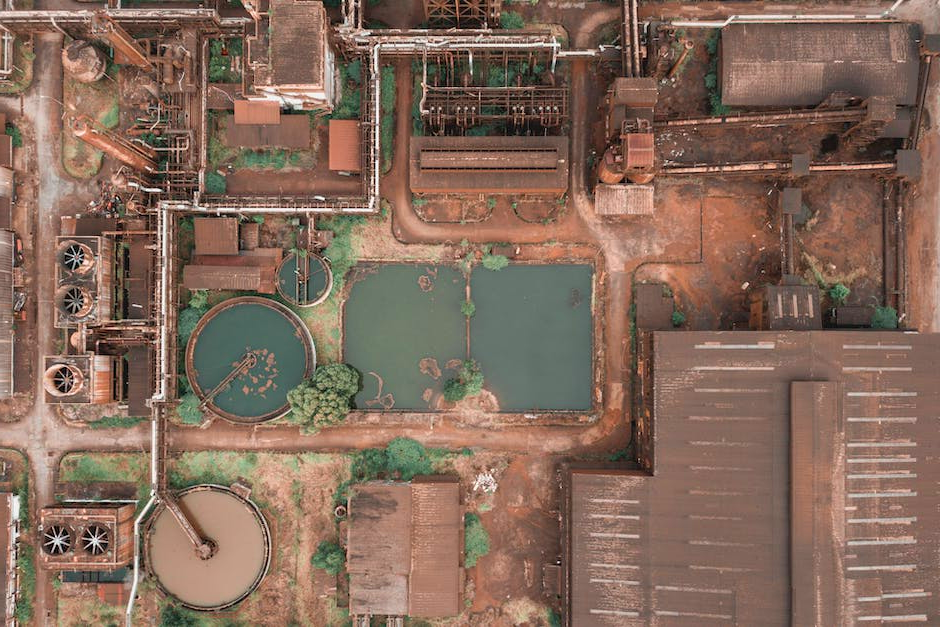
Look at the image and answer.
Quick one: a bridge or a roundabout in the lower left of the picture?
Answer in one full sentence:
It is a bridge that can be seen in the lower left of the picture.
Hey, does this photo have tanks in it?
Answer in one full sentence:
Yes, the frame does contain a tank.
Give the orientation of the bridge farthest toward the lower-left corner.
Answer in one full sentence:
The bridge farthest toward the lower-left corner is oriented at an angle.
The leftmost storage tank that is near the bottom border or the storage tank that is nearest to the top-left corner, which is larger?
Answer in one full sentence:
Of the two, the leftmost storage tank that is near the bottom border is bigger, while the storage tank that is nearest to the top-left corner is smaller.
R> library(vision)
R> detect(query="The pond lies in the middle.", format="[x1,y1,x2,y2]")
[341,260,596,413]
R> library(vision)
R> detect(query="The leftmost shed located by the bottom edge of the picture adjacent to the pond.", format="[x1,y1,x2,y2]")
[348,480,411,617]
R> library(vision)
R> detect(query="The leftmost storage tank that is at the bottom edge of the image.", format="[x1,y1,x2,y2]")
[144,478,275,612]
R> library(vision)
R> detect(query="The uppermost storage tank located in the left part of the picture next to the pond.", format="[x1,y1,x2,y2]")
[275,219,336,308]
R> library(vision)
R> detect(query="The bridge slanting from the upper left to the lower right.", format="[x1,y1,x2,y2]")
[156,489,210,553]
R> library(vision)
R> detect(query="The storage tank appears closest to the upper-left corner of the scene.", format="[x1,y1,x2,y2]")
[62,39,111,85]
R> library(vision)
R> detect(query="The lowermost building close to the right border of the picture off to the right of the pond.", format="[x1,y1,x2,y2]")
[636,333,940,627]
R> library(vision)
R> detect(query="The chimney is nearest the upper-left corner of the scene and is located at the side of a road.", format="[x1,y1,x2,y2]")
[71,117,157,171]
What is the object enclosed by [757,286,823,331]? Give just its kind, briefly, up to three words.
house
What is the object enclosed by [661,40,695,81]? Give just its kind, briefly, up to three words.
chimney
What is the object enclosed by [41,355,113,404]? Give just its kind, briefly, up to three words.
cooling tower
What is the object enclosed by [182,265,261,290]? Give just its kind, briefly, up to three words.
shed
